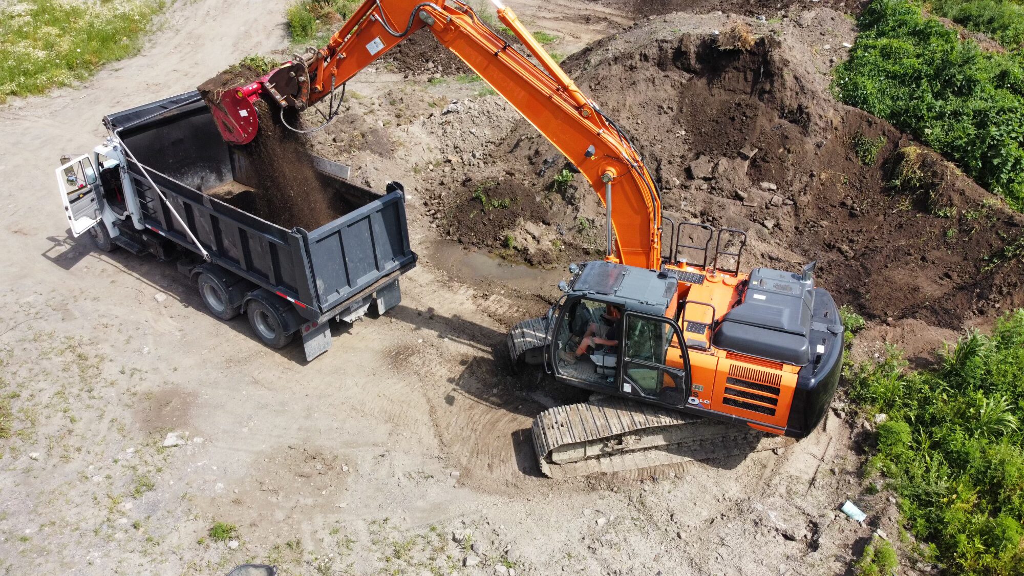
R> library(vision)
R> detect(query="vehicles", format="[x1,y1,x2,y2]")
[191,0,847,482]
[55,88,419,366]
